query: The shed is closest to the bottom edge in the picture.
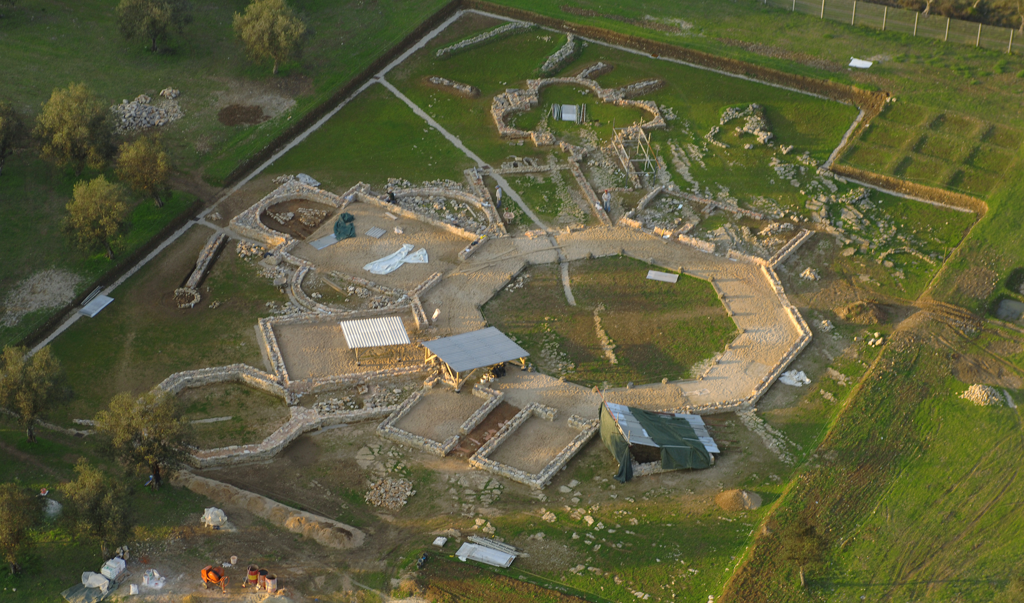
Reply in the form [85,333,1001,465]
[595,385,737,501]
